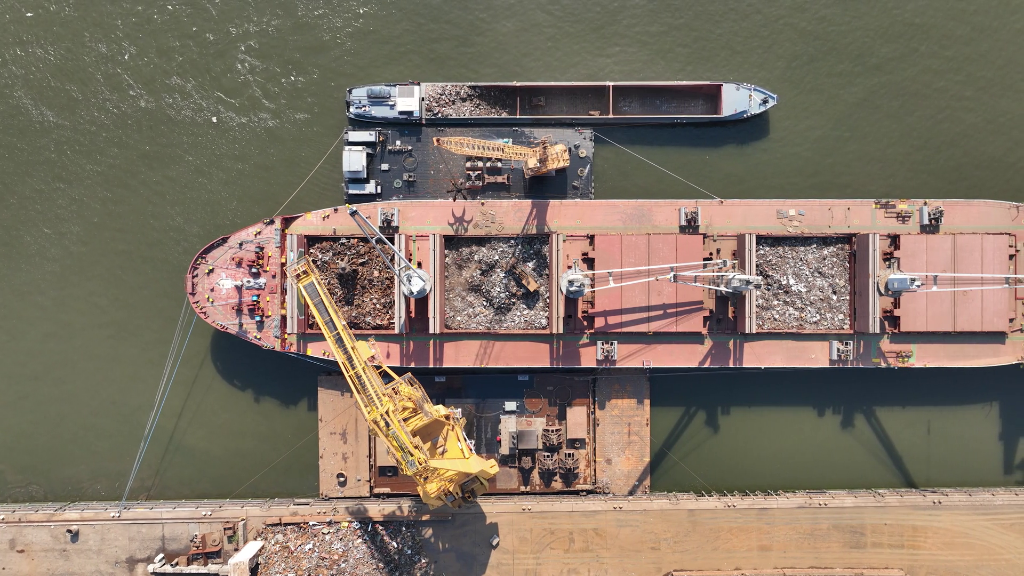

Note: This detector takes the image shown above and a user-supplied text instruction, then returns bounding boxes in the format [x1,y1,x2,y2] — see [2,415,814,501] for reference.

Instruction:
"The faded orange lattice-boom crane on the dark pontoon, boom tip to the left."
[433,134,571,178]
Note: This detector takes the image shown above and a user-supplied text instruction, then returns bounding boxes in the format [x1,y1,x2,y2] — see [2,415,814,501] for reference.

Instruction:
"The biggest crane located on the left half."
[282,255,500,510]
